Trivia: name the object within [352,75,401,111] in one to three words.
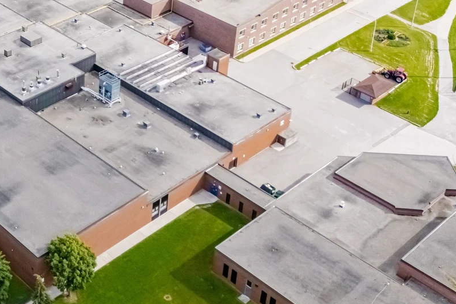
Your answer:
shed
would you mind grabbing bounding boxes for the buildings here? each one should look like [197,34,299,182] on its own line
[352,75,401,111]
[0,0,304,289]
